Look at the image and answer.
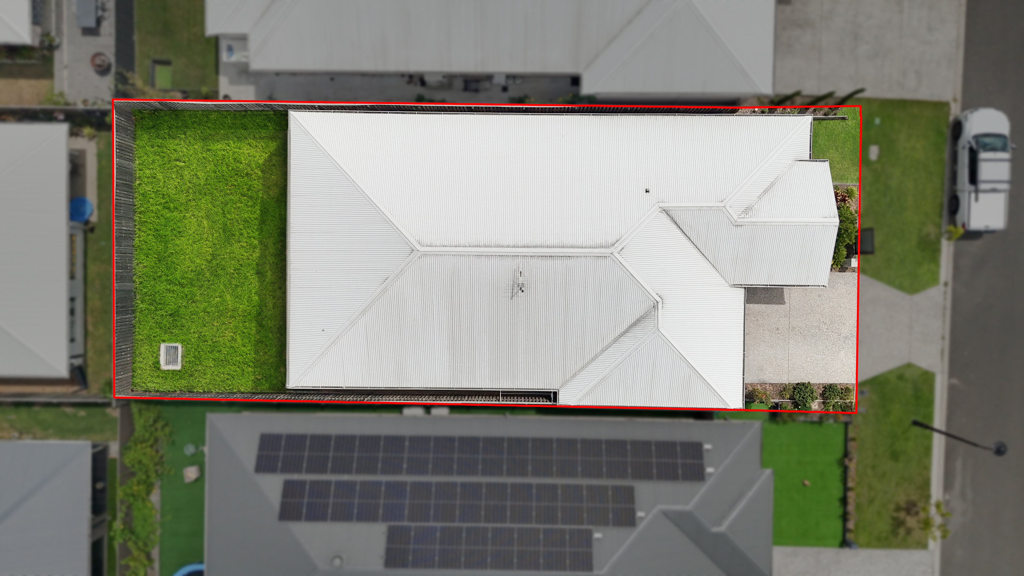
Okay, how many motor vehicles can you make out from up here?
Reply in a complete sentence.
The picture shows just 1 motor vehicle.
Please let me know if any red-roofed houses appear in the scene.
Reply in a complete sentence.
No, the scene contains no red-roofed house.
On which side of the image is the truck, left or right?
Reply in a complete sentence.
It is on the right.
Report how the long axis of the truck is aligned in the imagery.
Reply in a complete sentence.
The truck runs from top to bottom in the image.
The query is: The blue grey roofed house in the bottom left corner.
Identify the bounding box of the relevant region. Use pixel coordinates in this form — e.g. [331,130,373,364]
[0,437,115,576]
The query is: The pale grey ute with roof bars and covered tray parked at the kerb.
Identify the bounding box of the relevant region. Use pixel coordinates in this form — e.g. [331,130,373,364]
[947,108,1013,235]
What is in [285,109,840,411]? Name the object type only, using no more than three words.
house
